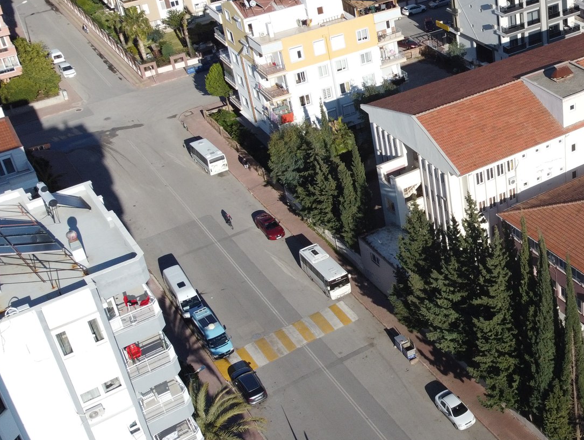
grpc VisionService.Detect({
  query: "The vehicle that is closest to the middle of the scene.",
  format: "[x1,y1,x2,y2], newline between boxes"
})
[253,212,282,237]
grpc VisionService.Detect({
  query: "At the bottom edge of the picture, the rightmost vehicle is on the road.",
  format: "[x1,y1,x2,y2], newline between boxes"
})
[432,385,474,425]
